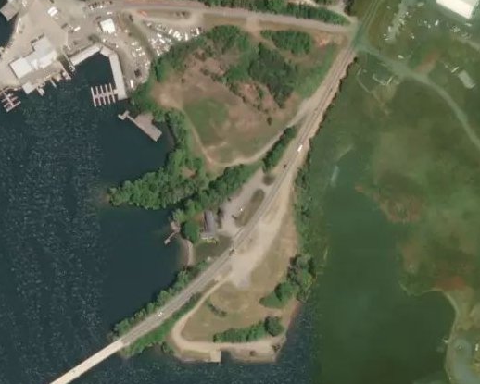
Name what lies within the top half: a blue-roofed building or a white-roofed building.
white-roofed building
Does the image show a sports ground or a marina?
marina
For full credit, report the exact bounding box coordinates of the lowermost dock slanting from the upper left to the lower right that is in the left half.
[118,111,162,141]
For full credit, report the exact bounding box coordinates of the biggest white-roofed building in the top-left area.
[9,35,56,77]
